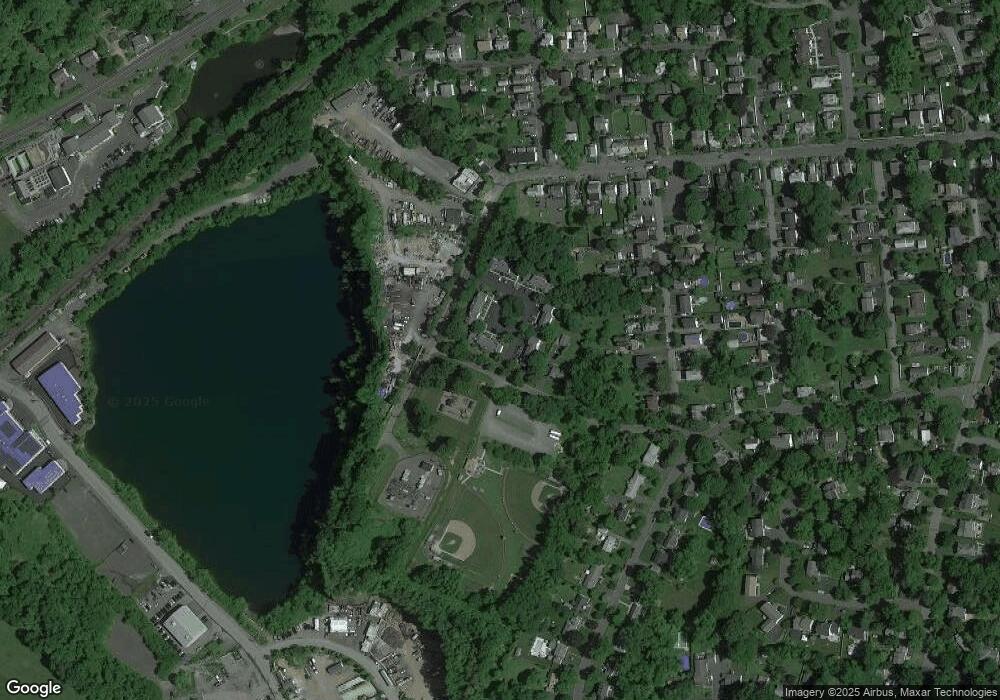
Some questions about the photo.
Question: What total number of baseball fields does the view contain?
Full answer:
The picture shows 2 baseball fields.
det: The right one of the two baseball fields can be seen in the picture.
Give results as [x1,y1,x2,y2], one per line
[505,455,565,540]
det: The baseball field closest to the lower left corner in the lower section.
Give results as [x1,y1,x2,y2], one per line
[434,488,505,580]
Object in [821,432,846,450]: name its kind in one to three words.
house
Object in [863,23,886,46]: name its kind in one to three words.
house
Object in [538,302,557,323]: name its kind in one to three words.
building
